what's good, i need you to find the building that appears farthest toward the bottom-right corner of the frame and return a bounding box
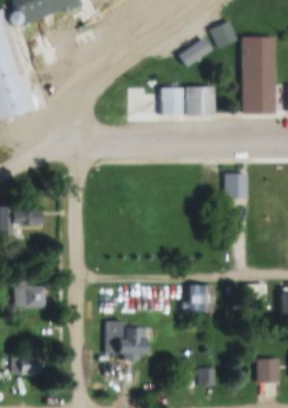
[256,358,281,383]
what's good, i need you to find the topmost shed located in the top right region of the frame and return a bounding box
[208,20,238,49]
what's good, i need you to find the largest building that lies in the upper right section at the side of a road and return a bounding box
[240,36,277,112]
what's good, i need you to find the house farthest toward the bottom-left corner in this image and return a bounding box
[11,356,46,376]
